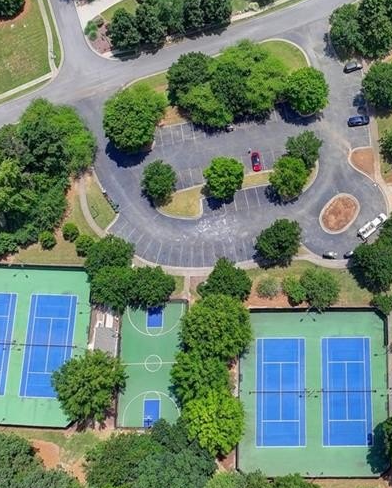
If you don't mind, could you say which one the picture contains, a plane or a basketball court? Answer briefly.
basketball court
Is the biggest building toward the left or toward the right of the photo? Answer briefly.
left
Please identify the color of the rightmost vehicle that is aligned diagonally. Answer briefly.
white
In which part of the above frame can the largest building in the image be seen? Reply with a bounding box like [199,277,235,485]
[94,327,118,356]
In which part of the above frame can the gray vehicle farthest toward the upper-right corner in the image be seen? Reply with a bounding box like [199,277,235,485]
[342,61,363,73]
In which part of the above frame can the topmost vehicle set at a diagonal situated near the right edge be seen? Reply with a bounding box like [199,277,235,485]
[357,214,386,240]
